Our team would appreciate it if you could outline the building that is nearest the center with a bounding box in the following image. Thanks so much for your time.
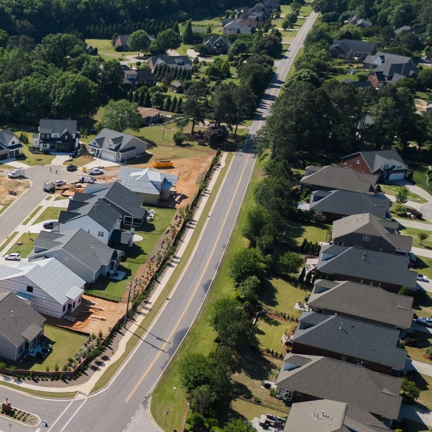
[128,179,206,214]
